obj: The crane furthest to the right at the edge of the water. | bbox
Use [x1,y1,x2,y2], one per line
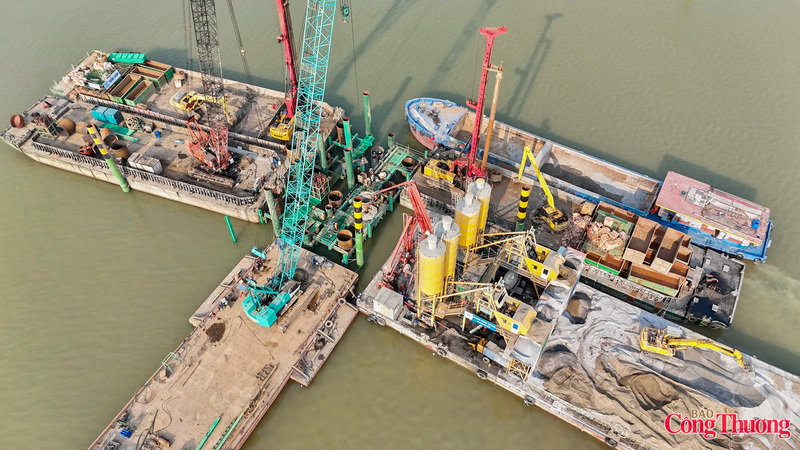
[245,0,338,338]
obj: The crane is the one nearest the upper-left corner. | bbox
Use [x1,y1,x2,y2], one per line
[181,0,250,190]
